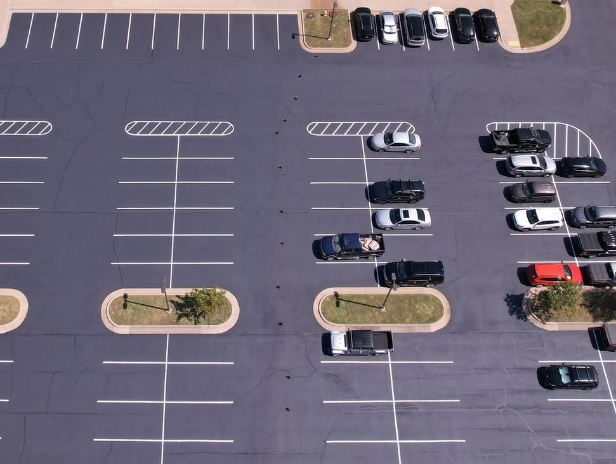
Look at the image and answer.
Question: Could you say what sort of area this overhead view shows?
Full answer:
What you see here is a parking lot.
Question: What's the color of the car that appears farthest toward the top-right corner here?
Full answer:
The color of the car that appears farthest toward the top-right corner is black.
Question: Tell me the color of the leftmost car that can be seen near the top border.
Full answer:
From above, the leftmost car that can be seen near the top border appears black.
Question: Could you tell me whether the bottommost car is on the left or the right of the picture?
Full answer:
The bottommost car appears in the right half of the scene.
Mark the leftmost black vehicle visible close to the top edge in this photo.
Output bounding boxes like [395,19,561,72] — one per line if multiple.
[352,6,375,43]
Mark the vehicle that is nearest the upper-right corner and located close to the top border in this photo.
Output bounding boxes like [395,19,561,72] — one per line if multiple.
[474,8,498,44]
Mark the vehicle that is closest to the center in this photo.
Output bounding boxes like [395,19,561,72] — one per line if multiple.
[321,232,384,258]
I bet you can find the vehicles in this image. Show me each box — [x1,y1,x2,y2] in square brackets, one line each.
[426,7,448,42]
[371,131,421,153]
[376,206,429,231]
[452,8,477,43]
[555,156,608,178]
[382,258,445,287]
[352,6,375,43]
[503,152,557,177]
[567,203,616,228]
[474,8,498,44]
[510,206,565,231]
[403,10,426,46]
[327,327,396,356]
[526,259,580,287]
[321,232,384,258]
[371,178,425,203]
[489,127,551,153]
[579,261,616,288]
[572,231,616,257]
[598,324,616,352]
[538,362,599,391]
[378,10,400,45]
[503,180,561,205]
